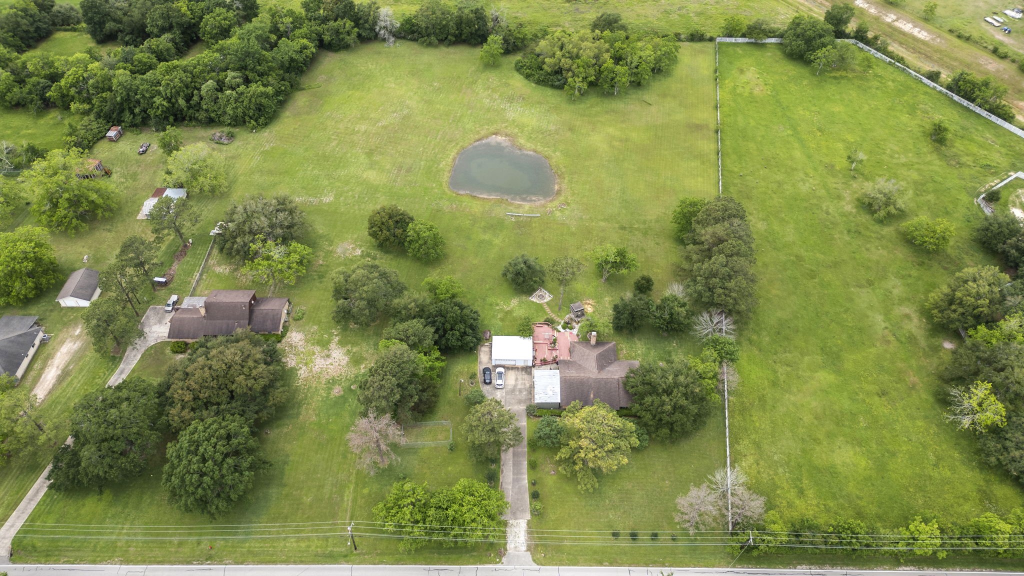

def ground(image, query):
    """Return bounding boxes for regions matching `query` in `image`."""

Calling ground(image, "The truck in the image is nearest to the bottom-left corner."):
[160,291,181,314]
